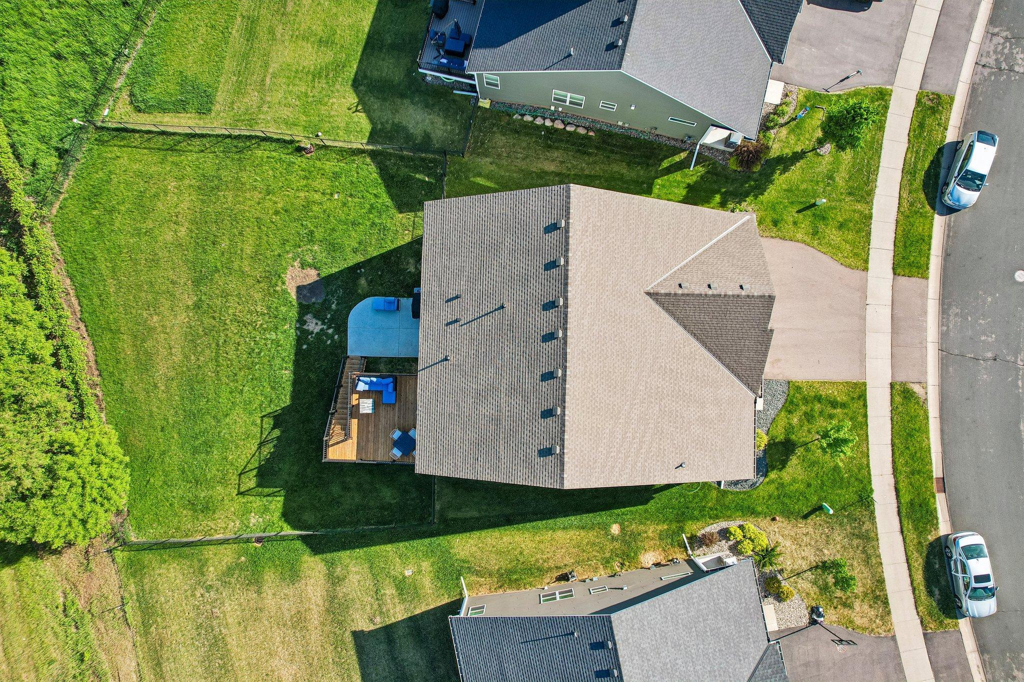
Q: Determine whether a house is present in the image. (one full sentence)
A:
Yes, a house can be made out from above.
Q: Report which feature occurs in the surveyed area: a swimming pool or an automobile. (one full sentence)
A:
Of the two, only an automobile appears.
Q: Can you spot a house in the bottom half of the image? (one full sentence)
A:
Yes, a house is visible in the bottom half of the image.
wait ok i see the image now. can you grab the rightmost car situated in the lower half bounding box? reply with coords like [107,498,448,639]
[945,530,999,621]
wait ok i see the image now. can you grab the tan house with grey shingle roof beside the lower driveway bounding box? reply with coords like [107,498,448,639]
[448,534,796,682]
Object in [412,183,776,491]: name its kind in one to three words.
house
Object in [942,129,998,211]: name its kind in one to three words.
car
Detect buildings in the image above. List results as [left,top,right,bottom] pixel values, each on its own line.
[448,534,796,682]
[454,0,809,169]
[412,183,776,491]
